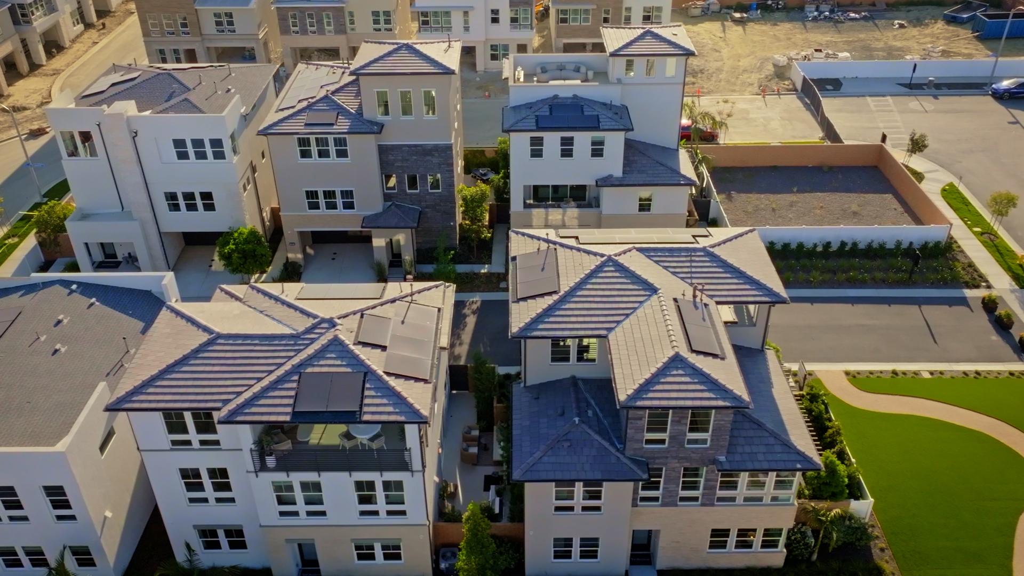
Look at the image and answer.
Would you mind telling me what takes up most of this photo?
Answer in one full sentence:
The largest share of the image is taken up by buildings.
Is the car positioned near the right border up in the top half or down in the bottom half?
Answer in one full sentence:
The top half of the photo is where the car positioned near the right border is.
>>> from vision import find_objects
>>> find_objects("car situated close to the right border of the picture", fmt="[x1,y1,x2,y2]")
[992,76,1024,99]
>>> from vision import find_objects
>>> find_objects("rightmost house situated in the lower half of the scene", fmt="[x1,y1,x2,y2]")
[507,226,828,576]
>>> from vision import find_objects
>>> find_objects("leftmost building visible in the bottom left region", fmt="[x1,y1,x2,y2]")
[0,272,180,576]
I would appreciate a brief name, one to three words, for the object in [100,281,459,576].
house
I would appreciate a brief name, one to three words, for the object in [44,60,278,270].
house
